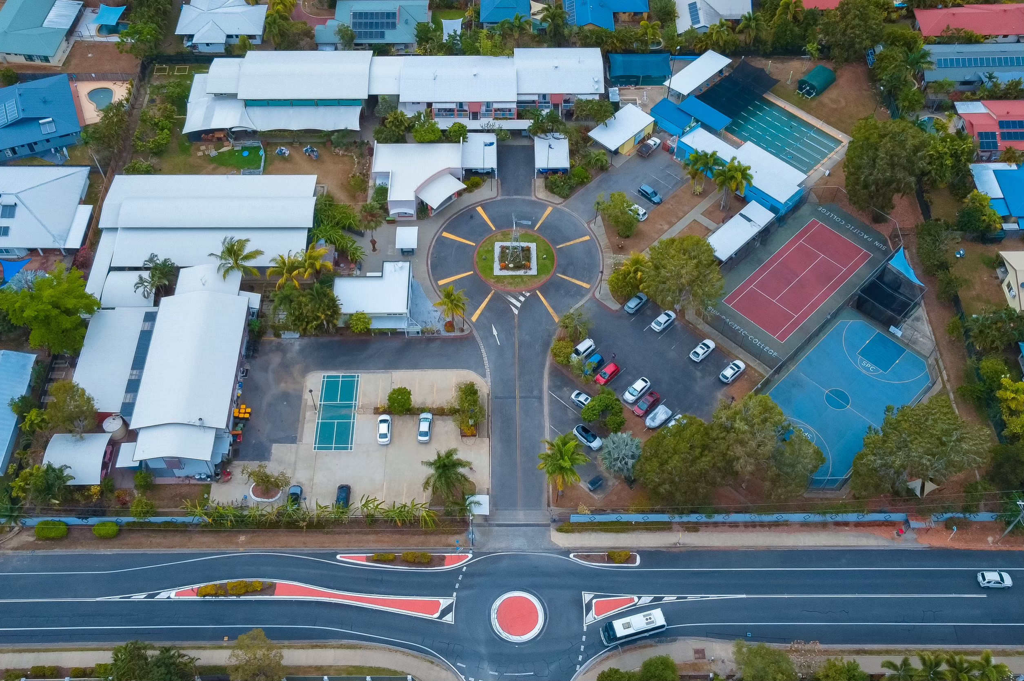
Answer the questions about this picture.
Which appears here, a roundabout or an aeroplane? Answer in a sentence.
The one in the frame is a roundabout.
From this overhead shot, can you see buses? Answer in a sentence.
Yes, the image includes a bus.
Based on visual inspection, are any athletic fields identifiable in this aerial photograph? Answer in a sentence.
Yes, the image includes an athletic field.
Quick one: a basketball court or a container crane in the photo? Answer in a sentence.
The image shows a basketball court.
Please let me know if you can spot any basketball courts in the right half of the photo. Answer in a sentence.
Yes, the scene does show a basketball court in the right half of the photo.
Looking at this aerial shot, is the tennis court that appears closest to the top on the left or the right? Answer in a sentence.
The tennis court that appears closest to the top appears in the right half of the scene.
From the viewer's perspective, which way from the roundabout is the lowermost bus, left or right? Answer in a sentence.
Relative to the roundabout, the lowermost bus lies to the right.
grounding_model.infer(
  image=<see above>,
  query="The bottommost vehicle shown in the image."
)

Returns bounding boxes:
[598,608,668,649]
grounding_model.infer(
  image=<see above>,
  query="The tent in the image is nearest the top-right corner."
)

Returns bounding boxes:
[798,67,838,97]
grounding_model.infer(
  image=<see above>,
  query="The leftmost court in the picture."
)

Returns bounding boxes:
[313,373,360,451]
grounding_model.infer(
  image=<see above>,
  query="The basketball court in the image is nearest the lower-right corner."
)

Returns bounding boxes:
[738,313,941,497]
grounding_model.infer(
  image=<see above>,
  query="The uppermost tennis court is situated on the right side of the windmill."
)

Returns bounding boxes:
[687,203,893,370]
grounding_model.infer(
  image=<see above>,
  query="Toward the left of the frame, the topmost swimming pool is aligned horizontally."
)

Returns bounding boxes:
[96,21,127,36]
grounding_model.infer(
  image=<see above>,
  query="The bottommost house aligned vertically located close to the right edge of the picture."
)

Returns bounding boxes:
[993,251,1024,321]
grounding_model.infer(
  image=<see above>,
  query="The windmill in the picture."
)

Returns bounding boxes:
[508,217,532,262]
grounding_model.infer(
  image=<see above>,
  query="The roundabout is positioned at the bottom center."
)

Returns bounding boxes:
[491,591,544,643]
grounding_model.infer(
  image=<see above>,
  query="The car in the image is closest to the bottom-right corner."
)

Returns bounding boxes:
[976,570,1014,588]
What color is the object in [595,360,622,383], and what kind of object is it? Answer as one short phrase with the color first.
red car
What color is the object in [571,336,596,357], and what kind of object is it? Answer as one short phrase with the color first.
white car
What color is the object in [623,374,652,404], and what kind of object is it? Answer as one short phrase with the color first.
white car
